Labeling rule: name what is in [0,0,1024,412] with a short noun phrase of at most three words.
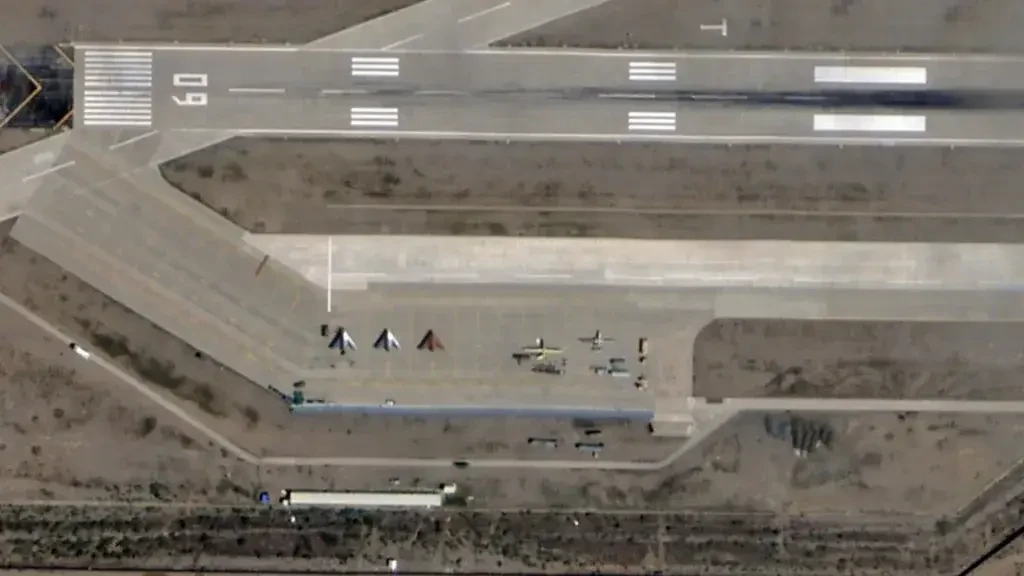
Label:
airport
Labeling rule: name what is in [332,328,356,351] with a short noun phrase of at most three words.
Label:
airplane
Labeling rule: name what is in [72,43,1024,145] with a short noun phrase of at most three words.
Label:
runway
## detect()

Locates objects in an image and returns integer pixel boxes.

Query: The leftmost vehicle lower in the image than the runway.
[70,344,90,359]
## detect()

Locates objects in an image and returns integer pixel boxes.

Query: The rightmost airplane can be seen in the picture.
[580,333,616,352]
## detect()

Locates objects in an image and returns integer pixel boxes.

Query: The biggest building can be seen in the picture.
[289,493,441,507]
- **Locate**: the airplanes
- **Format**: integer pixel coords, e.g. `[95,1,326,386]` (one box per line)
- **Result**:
[580,333,616,352]
[421,329,444,353]
[332,328,356,351]
[377,328,400,352]
[512,355,529,365]
[523,339,562,361]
